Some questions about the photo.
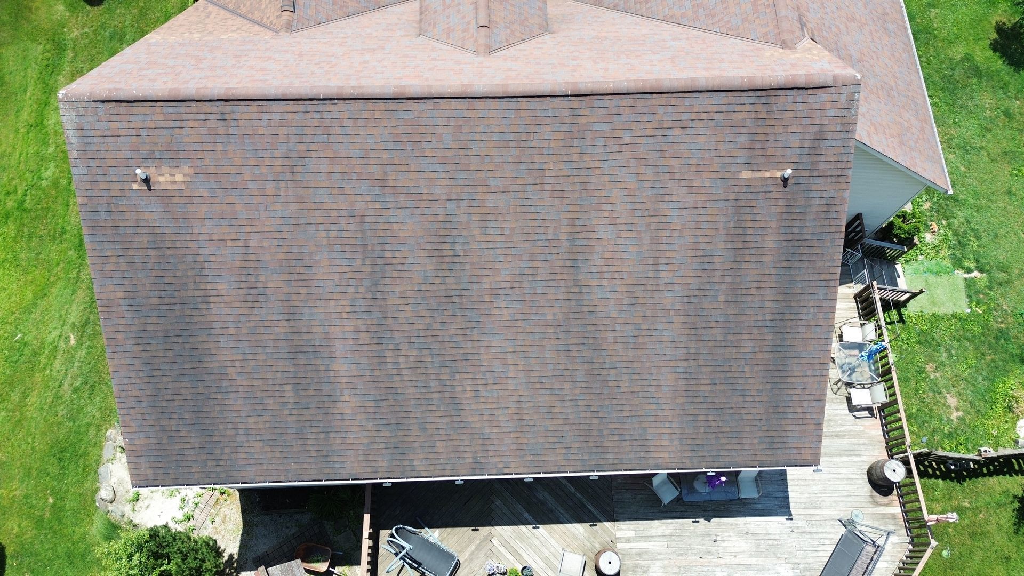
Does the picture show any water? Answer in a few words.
No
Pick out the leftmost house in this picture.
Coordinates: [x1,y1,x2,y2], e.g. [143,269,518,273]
[58,0,953,494]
